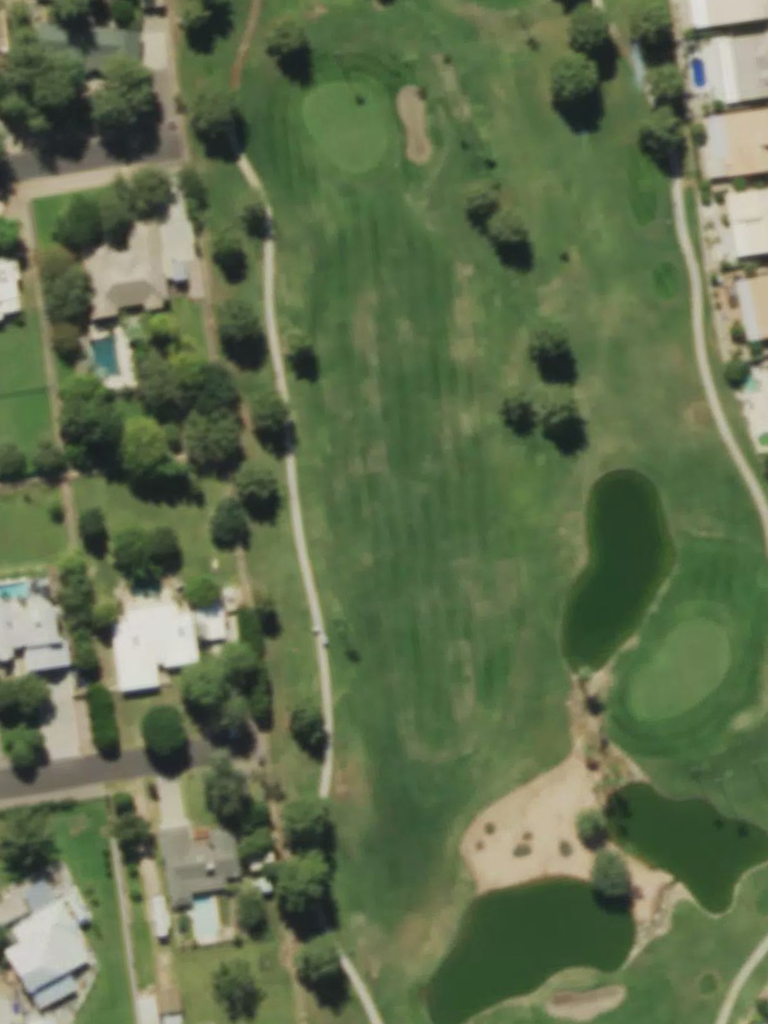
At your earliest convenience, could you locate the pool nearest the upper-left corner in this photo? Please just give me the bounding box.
[88,334,123,382]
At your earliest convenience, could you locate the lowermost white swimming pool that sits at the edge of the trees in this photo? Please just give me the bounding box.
[192,890,224,934]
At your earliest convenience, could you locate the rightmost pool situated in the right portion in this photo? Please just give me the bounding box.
[739,372,767,395]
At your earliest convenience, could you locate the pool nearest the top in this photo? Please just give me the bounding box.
[688,55,709,90]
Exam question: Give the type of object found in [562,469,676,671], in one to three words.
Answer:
pond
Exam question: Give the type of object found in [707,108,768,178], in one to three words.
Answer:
house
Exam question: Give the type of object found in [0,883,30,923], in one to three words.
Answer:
house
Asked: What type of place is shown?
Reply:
golf course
